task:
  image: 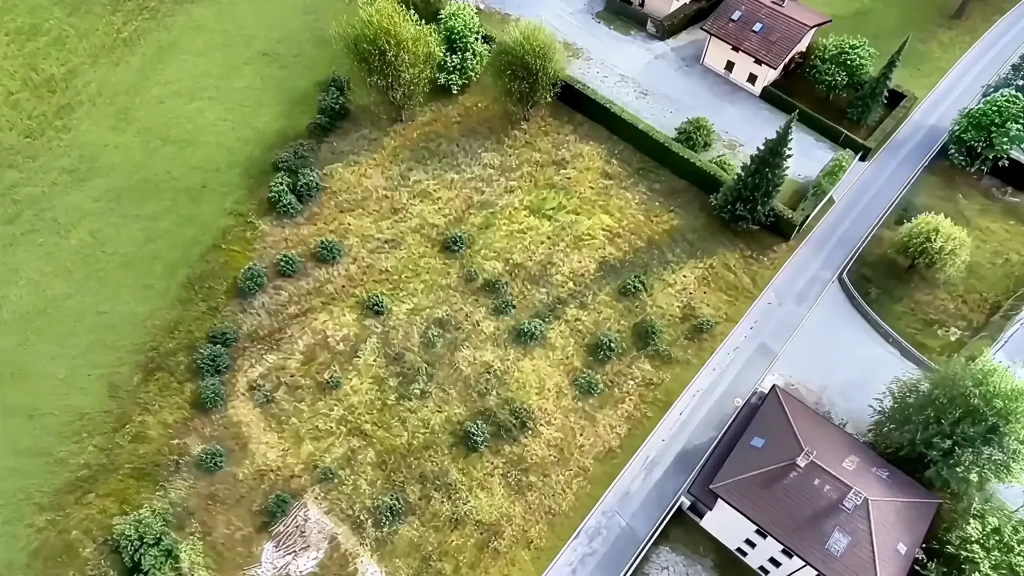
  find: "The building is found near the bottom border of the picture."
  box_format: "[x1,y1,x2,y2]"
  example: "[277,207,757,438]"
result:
[702,386,948,576]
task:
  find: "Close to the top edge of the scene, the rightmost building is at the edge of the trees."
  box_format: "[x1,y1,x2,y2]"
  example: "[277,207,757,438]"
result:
[701,0,826,95]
